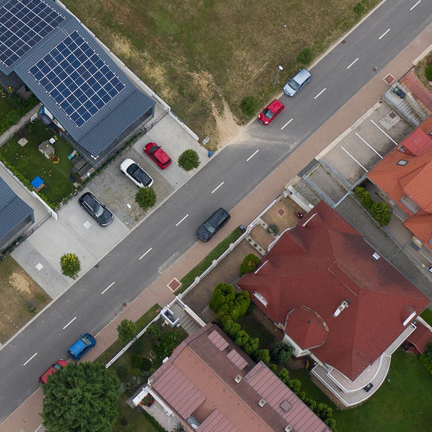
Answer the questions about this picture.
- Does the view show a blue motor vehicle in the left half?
Yes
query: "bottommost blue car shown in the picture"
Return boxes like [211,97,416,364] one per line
[64,332,98,363]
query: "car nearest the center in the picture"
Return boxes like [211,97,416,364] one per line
[194,205,234,242]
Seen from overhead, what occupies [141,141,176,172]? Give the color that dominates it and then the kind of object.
red car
